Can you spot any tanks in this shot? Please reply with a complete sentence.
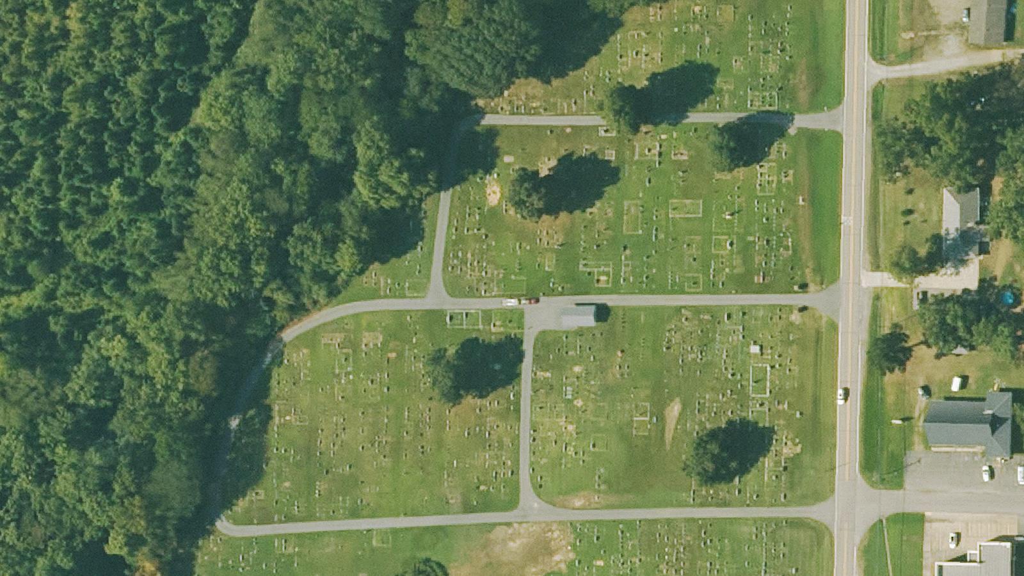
No, the picture doesn't show any tank.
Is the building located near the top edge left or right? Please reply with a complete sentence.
The building located near the top edge is on the right side of the image.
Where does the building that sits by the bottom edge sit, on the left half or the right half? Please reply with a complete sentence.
The building that sits by the bottom edge is on the right side of the image.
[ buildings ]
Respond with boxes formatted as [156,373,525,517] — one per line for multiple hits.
[943,187,979,259]
[561,305,596,326]
[924,392,1012,456]
[934,541,1011,576]
[970,0,1006,44]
